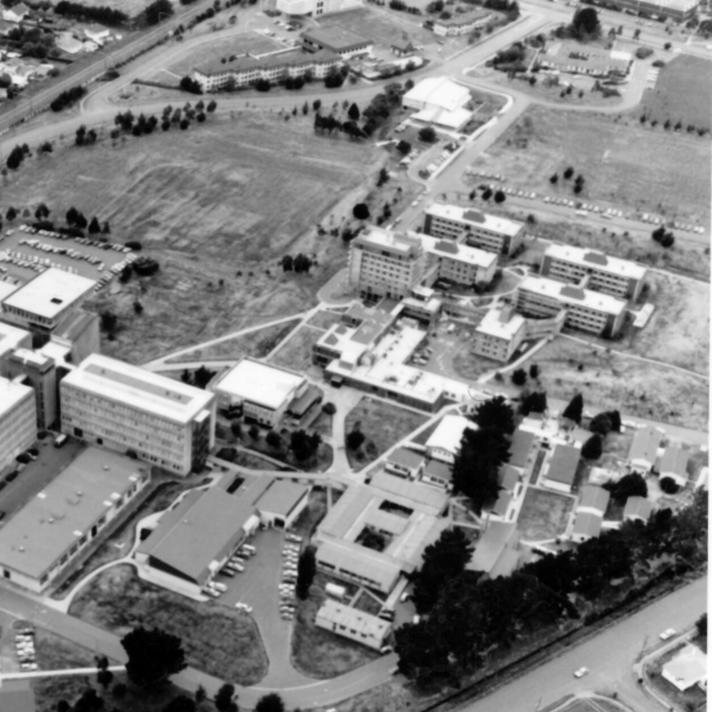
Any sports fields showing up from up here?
Yes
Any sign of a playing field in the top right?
Yes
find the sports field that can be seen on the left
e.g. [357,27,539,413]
[0,112,388,261]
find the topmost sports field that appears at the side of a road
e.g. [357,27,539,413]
[640,54,712,135]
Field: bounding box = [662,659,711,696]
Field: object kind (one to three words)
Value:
house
